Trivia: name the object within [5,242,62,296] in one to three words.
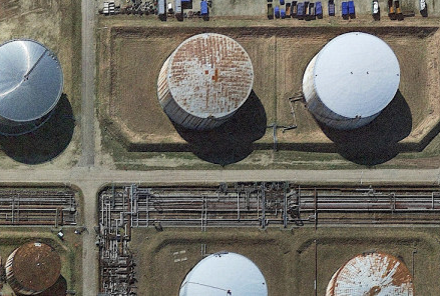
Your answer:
storage tank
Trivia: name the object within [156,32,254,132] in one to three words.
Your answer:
storage tank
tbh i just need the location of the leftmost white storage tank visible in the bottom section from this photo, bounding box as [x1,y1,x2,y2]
[169,252,267,296]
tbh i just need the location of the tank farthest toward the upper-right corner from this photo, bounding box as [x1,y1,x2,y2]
[301,31,401,131]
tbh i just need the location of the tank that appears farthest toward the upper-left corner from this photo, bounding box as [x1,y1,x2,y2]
[0,39,64,134]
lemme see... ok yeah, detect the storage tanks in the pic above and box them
[301,31,401,131]
[324,250,416,296]
[156,32,254,132]
[169,252,267,296]
[5,242,62,296]
[0,39,64,134]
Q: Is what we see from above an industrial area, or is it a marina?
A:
industrial area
